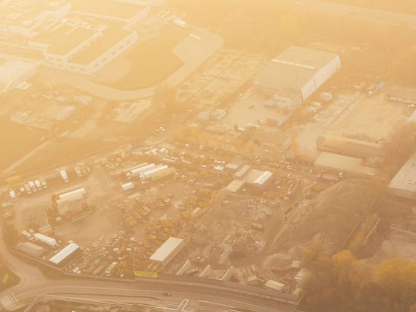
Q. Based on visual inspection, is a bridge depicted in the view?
No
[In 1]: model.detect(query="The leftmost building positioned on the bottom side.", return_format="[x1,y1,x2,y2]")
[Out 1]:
[19,242,47,259]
